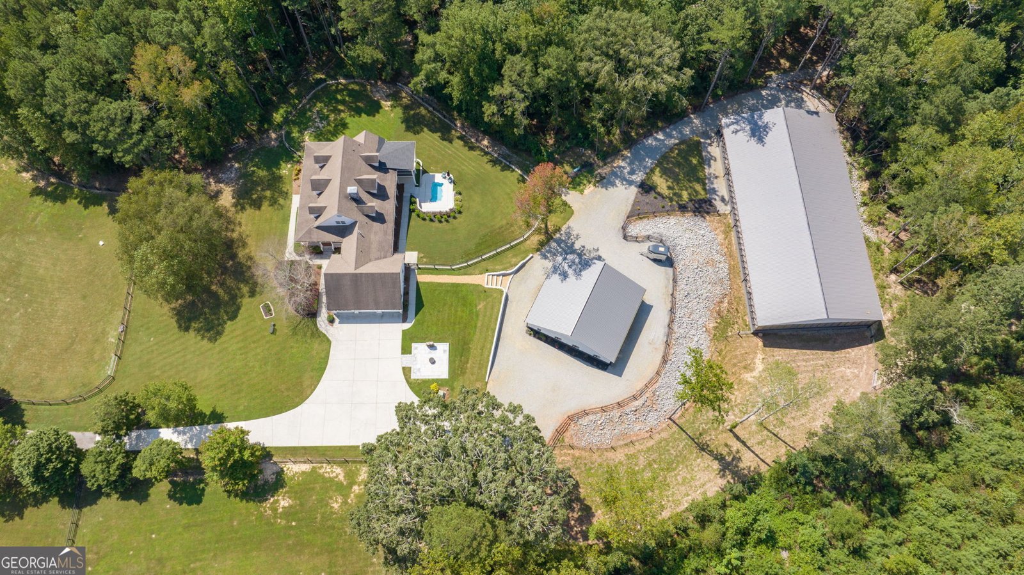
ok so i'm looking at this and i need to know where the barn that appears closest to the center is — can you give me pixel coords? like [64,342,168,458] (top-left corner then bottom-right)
[526,252,645,362]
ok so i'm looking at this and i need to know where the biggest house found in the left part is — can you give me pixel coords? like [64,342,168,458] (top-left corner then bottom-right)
[294,130,417,314]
